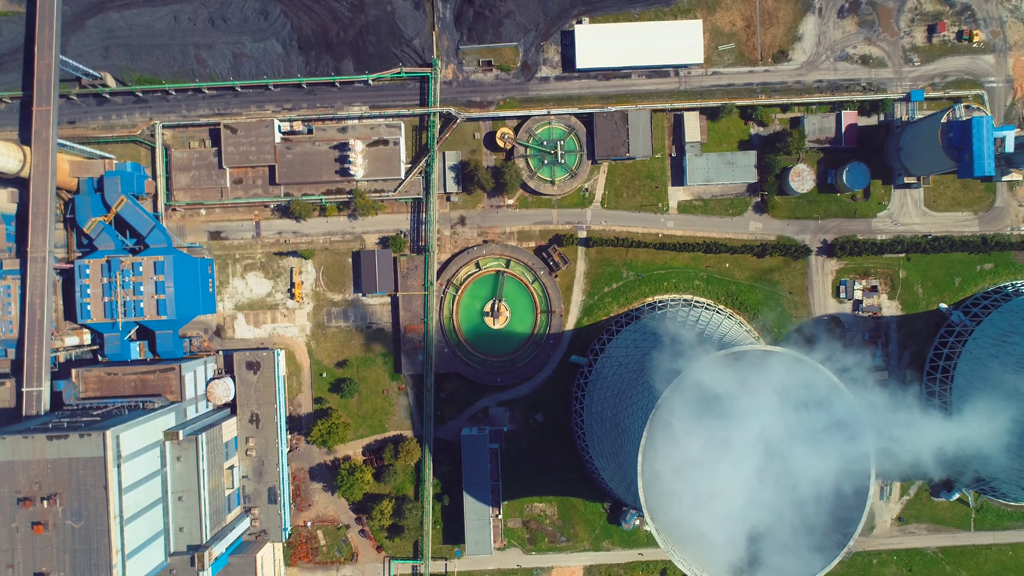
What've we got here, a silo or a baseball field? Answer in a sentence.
The one in the frame is a silo.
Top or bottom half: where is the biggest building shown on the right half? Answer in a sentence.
The biggest building shown on the right half is in the top half of the image.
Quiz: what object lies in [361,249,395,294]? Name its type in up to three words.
shed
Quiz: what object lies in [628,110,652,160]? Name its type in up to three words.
building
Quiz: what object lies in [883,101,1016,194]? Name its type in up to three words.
silo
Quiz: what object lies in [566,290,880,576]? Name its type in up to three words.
cooling tower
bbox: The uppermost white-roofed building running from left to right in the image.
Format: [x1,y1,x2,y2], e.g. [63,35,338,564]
[574,18,704,72]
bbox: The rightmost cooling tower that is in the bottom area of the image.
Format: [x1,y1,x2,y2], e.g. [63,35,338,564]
[918,272,1024,507]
